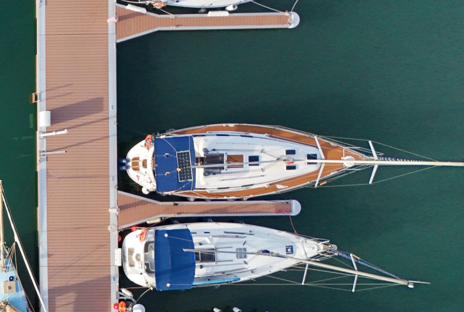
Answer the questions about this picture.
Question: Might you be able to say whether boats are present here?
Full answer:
Yes, there's a boat here.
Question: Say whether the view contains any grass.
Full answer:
No, there is no grass in the image.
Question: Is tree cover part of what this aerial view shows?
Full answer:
No, the picture contains no tree cover.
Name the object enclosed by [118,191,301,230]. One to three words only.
pier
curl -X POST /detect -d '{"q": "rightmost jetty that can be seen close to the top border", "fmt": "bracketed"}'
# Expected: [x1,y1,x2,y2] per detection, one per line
[116,4,300,42]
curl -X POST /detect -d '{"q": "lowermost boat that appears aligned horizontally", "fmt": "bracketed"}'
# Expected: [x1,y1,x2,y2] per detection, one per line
[121,222,430,292]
